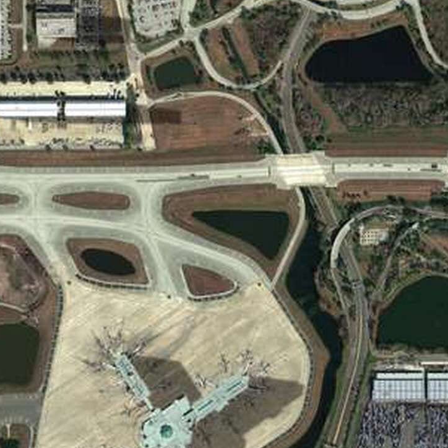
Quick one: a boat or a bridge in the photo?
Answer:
bridge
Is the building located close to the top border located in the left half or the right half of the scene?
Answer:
left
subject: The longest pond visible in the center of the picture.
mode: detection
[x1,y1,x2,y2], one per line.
[193,211,290,259]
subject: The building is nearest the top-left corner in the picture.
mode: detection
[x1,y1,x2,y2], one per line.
[36,13,77,37]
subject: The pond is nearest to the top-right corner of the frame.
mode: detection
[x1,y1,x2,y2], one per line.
[305,27,433,86]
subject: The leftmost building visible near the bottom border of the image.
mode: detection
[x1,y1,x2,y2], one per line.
[103,341,259,448]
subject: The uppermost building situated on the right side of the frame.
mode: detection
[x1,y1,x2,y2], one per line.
[360,231,385,244]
